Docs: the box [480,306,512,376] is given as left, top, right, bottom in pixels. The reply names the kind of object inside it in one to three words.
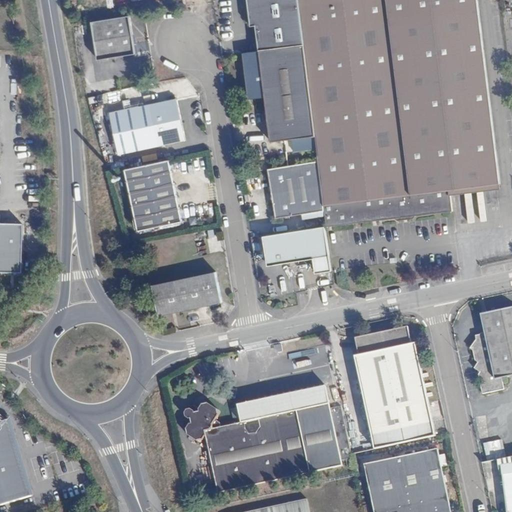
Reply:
building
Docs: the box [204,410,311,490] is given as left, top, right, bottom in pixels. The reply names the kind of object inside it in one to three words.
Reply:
building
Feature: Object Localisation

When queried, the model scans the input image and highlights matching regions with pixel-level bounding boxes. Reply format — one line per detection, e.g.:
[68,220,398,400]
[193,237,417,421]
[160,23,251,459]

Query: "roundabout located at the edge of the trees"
[17,250,166,474]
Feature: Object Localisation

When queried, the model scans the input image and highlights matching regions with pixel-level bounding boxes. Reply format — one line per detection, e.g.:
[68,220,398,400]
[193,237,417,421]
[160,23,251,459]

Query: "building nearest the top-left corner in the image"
[90,16,135,60]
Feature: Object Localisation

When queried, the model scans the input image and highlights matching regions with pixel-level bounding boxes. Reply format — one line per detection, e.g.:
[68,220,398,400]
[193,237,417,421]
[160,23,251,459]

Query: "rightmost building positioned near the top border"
[384,0,500,196]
